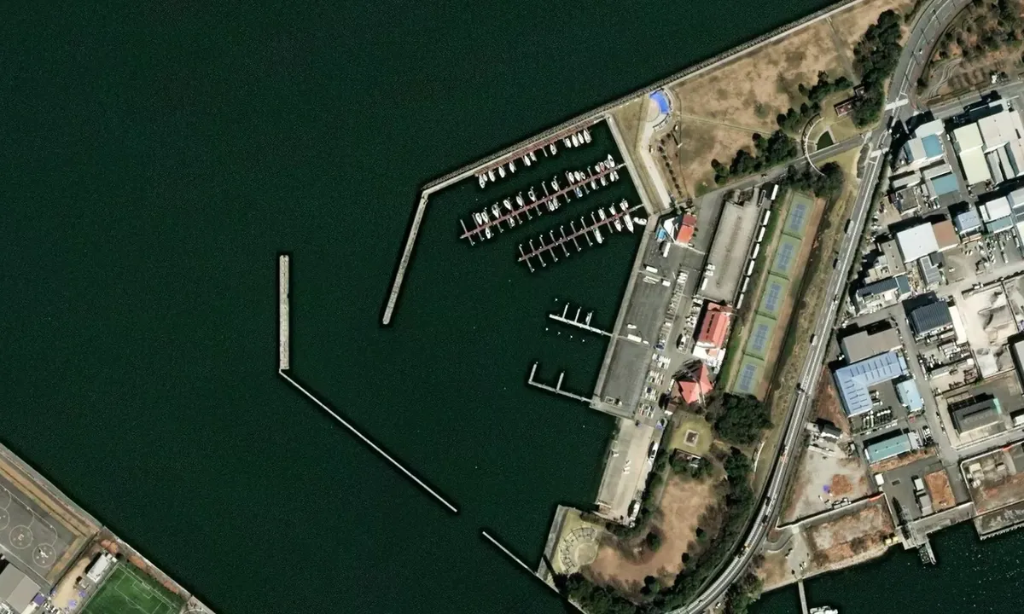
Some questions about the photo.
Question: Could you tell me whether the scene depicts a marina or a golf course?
marina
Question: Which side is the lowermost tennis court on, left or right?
right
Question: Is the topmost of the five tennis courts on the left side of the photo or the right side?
right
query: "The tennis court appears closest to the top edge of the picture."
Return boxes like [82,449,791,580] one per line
[783,193,813,239]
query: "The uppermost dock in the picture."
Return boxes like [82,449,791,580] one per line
[476,123,595,180]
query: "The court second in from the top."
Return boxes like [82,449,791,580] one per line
[770,235,801,279]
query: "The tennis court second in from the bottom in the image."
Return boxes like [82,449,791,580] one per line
[745,315,776,360]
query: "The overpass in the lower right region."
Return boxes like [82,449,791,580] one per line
[675,347,824,614]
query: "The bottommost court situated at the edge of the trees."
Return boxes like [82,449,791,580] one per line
[732,356,763,398]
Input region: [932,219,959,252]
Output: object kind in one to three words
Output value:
building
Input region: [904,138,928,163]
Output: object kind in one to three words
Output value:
building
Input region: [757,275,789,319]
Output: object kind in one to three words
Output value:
tennis court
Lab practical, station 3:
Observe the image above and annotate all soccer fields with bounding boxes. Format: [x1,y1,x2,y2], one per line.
[82,560,188,614]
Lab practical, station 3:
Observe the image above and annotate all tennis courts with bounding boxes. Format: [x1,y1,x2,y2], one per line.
[783,193,813,239]
[757,275,789,319]
[770,235,801,279]
[732,356,763,398]
[745,315,776,360]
